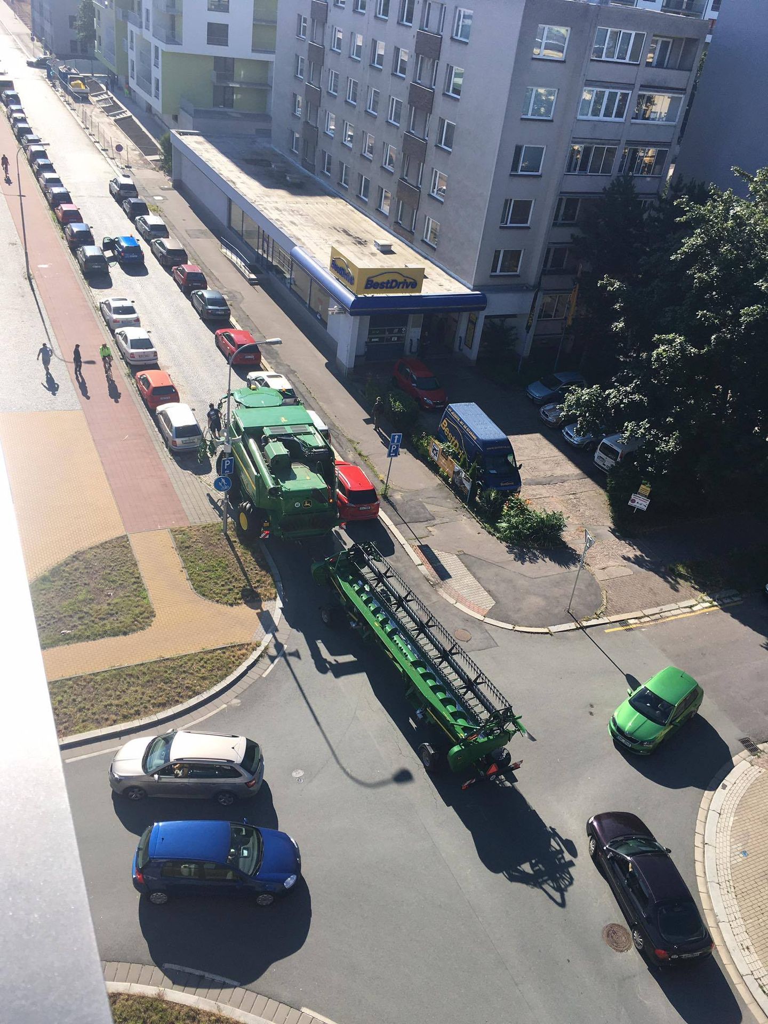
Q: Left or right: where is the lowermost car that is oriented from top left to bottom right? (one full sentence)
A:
The lowermost car that is oriented from top left to bottom right appears in the right half of the scene.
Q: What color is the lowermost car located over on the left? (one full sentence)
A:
In this view, the lowermost car located over on the left is blue.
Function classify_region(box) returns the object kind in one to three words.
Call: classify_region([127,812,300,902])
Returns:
car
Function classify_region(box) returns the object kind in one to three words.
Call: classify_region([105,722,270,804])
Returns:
car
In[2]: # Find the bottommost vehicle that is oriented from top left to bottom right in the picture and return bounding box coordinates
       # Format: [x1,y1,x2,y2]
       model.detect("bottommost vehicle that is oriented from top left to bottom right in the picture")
[588,811,725,981]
